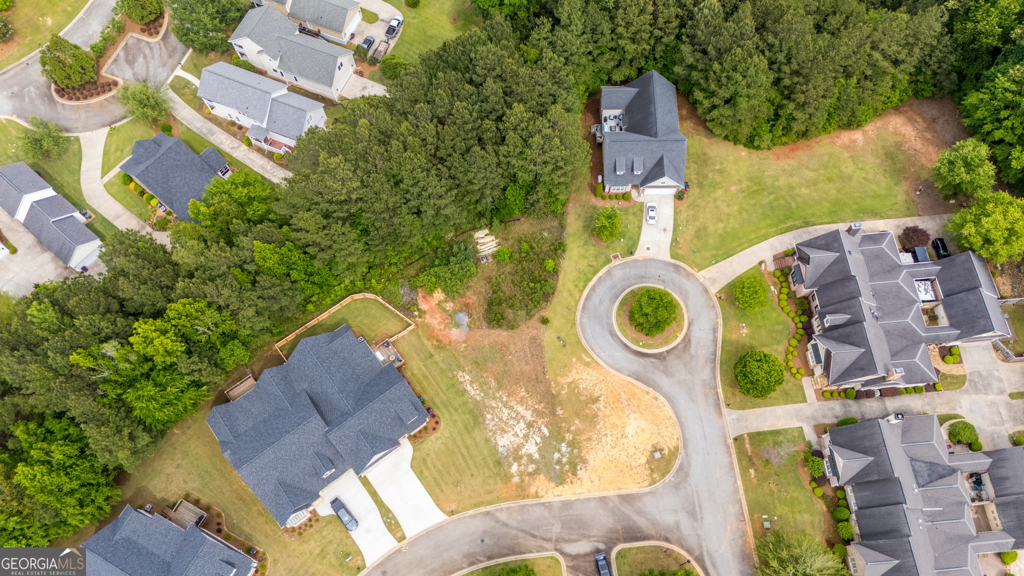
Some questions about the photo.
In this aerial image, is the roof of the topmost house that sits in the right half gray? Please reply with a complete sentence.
Yes, gray is the color of the roof of the topmost house that sits in the right half.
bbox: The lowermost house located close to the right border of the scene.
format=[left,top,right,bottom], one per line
[820,406,1024,576]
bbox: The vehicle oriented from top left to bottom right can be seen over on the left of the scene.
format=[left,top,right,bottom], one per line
[329,494,360,535]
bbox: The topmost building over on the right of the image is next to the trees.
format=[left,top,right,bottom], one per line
[600,70,687,195]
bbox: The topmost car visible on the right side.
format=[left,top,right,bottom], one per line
[645,201,658,227]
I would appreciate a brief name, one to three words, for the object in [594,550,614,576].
vehicle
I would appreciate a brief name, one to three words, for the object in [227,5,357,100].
house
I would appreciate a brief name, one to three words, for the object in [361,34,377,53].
car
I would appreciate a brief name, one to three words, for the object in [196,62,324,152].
house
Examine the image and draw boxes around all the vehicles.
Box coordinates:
[361,34,377,53]
[383,16,404,41]
[931,235,952,262]
[645,201,658,227]
[594,550,614,576]
[329,494,360,535]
